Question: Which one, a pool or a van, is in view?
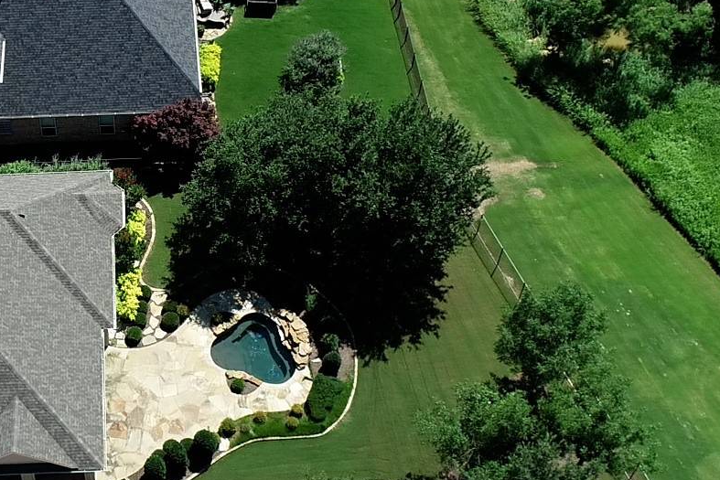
pool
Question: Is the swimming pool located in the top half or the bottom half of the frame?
bottom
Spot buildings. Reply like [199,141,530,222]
[0,169,127,480]
[0,0,203,145]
